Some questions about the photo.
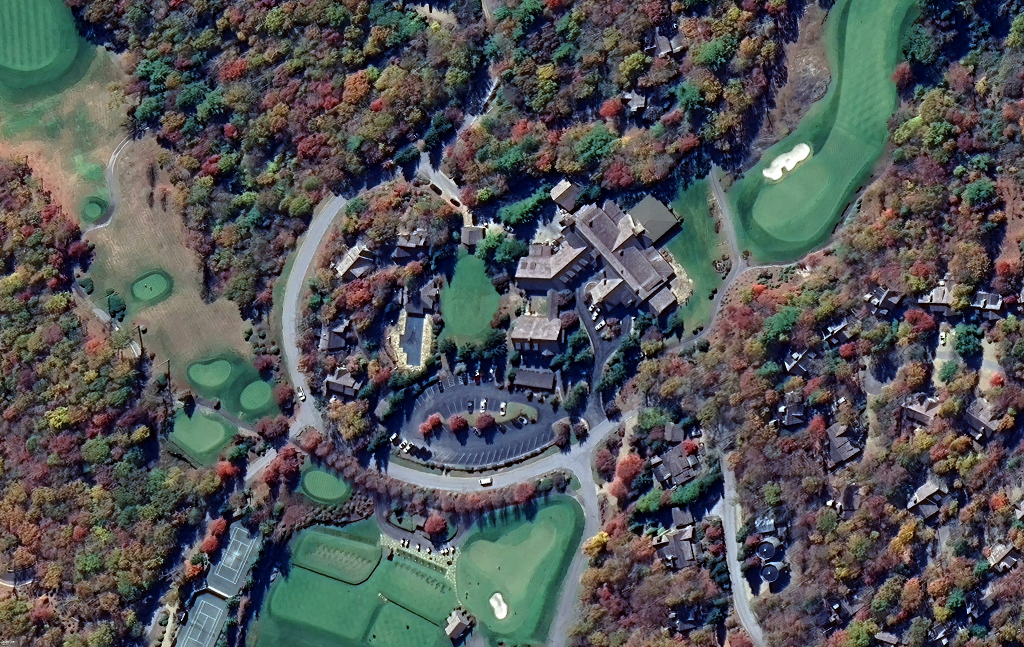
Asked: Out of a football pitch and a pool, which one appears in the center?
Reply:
pool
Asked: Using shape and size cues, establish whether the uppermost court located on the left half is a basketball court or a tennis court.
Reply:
tennis court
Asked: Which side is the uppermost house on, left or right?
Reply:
right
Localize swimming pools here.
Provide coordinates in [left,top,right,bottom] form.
[390,309,433,371]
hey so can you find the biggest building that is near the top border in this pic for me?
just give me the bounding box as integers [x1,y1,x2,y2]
[647,29,688,55]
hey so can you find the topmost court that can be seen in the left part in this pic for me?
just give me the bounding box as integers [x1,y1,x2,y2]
[207,520,259,597]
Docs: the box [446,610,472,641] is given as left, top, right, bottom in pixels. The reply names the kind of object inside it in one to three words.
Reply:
building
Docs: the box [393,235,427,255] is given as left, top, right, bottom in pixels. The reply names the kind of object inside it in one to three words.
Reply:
house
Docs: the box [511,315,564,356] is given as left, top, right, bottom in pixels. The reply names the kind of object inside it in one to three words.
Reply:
building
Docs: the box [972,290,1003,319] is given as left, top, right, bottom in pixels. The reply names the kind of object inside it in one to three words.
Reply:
house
